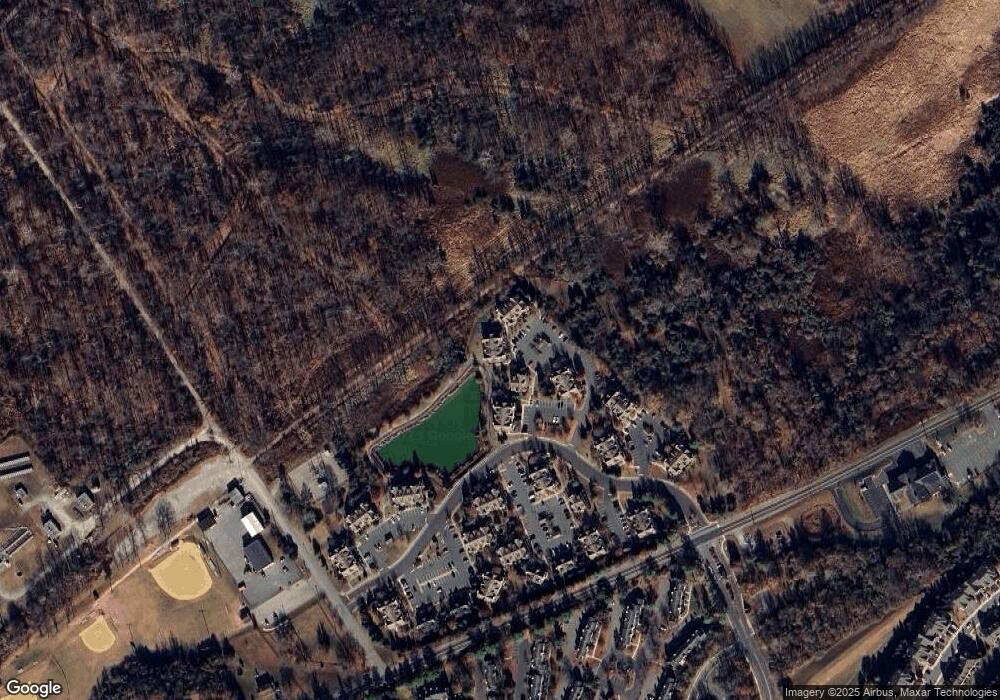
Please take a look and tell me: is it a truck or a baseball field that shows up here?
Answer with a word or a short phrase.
baseball field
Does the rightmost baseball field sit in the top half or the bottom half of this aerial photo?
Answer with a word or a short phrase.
bottom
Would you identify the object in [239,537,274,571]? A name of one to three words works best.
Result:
building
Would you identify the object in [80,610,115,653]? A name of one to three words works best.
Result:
baseball field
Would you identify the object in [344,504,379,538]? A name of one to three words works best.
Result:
building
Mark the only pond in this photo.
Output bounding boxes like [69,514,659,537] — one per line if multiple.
[378,377,480,471]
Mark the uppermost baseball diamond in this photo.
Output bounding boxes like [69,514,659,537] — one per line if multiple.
[149,531,212,600]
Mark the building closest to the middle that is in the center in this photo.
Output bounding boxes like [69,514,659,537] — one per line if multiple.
[480,335,505,363]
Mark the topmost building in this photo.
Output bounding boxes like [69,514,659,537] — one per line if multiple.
[495,296,533,332]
